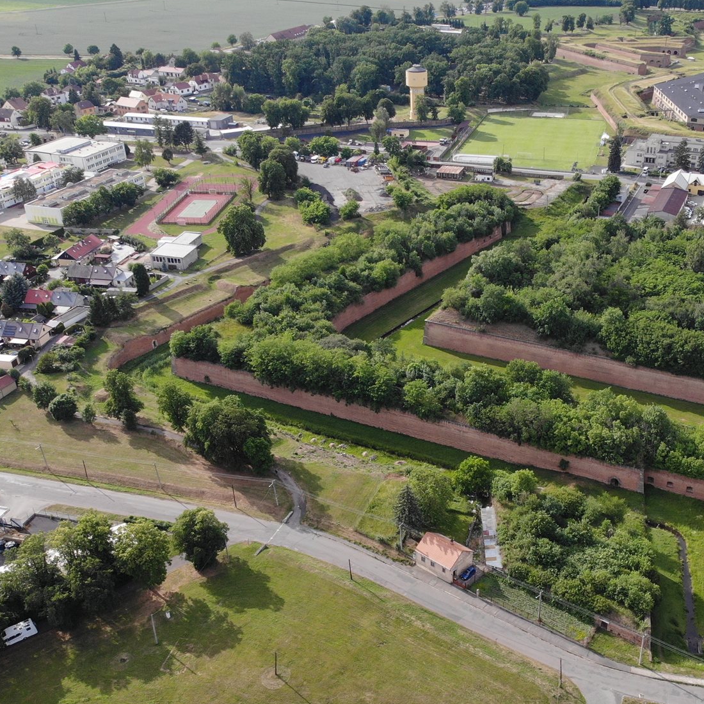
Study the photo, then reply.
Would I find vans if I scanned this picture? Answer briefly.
Yes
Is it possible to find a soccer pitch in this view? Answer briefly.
Yes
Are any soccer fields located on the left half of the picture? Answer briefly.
No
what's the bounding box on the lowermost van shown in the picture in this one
[1,618,43,646]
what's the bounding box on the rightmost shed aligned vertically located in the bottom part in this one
[481,507,503,579]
